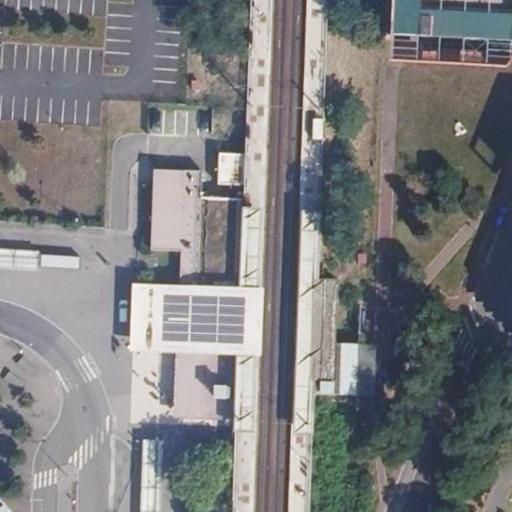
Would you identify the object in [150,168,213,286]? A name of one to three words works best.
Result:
building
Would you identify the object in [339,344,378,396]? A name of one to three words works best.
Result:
building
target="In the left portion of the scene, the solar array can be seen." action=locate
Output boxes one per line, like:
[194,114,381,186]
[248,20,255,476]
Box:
[160,294,246,346]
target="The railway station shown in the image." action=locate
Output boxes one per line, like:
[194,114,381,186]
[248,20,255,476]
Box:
[129,0,325,512]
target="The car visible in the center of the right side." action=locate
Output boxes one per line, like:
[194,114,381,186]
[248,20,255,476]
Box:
[496,204,509,226]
